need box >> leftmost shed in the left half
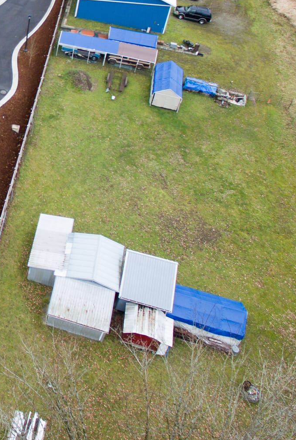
[27,212,74,288]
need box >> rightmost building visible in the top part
[148,61,184,112]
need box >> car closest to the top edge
[174,2,215,23]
